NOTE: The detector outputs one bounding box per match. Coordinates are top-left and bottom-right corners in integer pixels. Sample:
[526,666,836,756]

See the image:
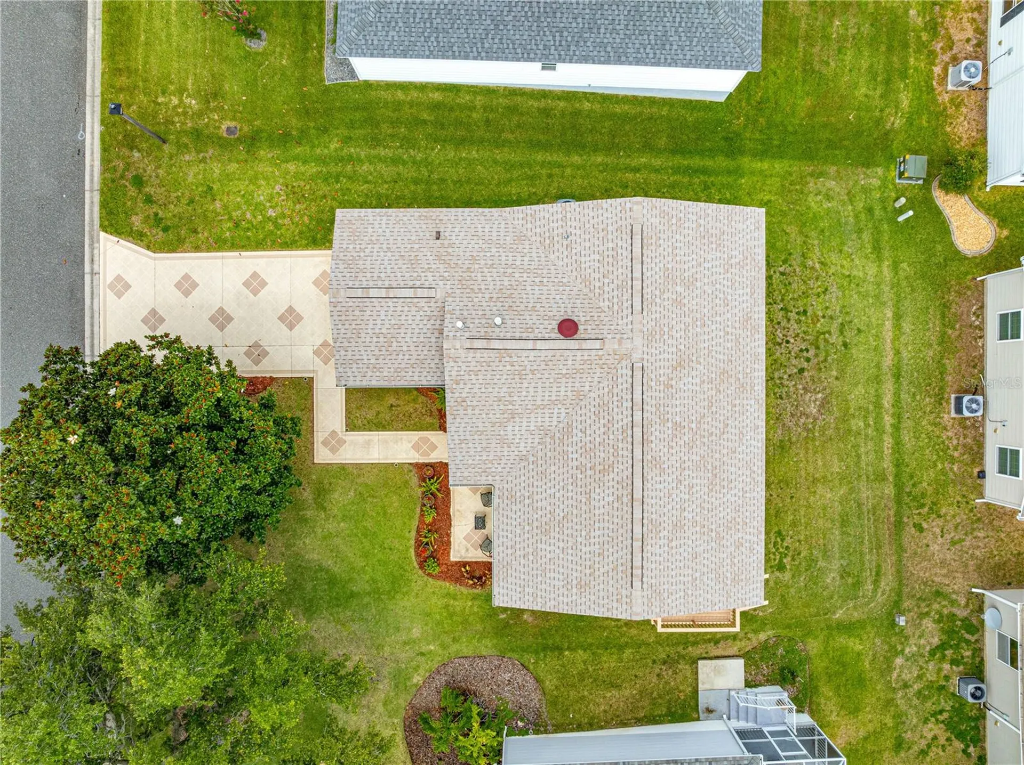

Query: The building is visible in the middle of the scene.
[328,196,767,621]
